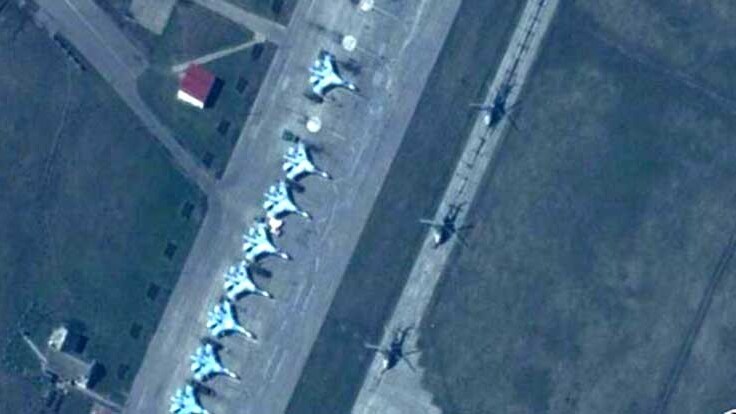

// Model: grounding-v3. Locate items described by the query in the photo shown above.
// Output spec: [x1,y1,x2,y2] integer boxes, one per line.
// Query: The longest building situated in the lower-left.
[42,350,96,387]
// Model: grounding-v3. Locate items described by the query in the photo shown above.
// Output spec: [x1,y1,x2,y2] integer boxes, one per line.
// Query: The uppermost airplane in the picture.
[308,60,359,93]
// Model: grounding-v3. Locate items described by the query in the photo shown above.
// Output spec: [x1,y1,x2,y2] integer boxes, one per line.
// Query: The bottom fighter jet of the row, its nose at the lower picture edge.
[165,385,216,414]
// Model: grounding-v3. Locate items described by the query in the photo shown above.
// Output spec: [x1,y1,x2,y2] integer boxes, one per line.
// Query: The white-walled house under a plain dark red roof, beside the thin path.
[180,67,217,103]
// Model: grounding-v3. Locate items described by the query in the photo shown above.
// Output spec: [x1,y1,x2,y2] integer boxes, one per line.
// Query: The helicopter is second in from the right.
[420,202,461,244]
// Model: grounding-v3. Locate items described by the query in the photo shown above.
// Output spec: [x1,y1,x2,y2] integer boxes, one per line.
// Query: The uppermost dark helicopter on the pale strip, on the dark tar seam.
[470,85,508,126]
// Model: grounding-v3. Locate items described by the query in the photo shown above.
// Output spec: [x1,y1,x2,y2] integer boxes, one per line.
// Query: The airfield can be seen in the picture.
[24,0,559,414]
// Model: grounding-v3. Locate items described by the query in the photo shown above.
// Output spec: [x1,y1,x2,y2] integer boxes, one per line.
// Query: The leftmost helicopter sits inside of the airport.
[367,326,408,370]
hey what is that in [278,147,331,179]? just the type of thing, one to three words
airplane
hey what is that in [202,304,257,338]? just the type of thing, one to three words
airplane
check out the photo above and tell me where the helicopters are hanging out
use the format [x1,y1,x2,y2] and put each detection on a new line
[470,85,508,126]
[367,326,408,370]
[420,202,461,244]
